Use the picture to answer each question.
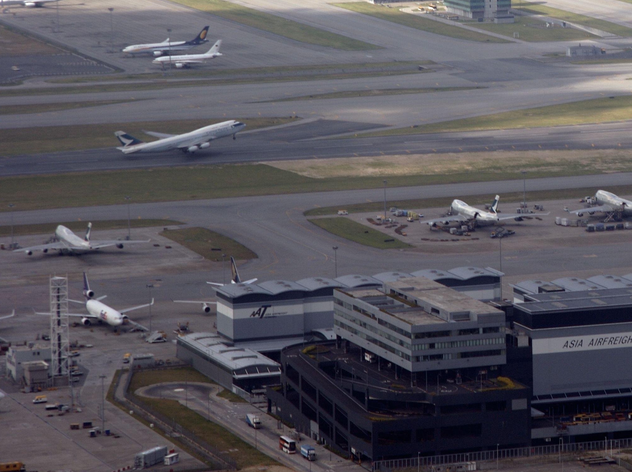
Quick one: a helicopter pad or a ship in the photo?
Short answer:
ship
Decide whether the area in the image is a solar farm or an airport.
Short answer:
airport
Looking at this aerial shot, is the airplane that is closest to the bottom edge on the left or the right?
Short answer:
left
